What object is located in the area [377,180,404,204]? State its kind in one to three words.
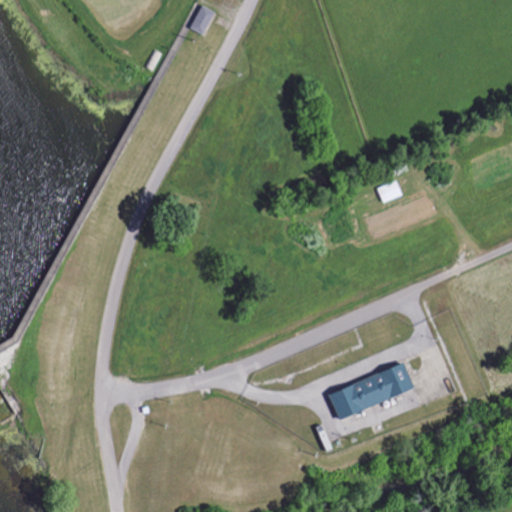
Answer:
barn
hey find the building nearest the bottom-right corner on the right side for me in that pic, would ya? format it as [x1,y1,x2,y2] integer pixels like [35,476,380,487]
[329,364,414,418]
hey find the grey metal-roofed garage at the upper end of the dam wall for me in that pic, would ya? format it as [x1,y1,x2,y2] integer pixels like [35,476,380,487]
[189,5,216,35]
